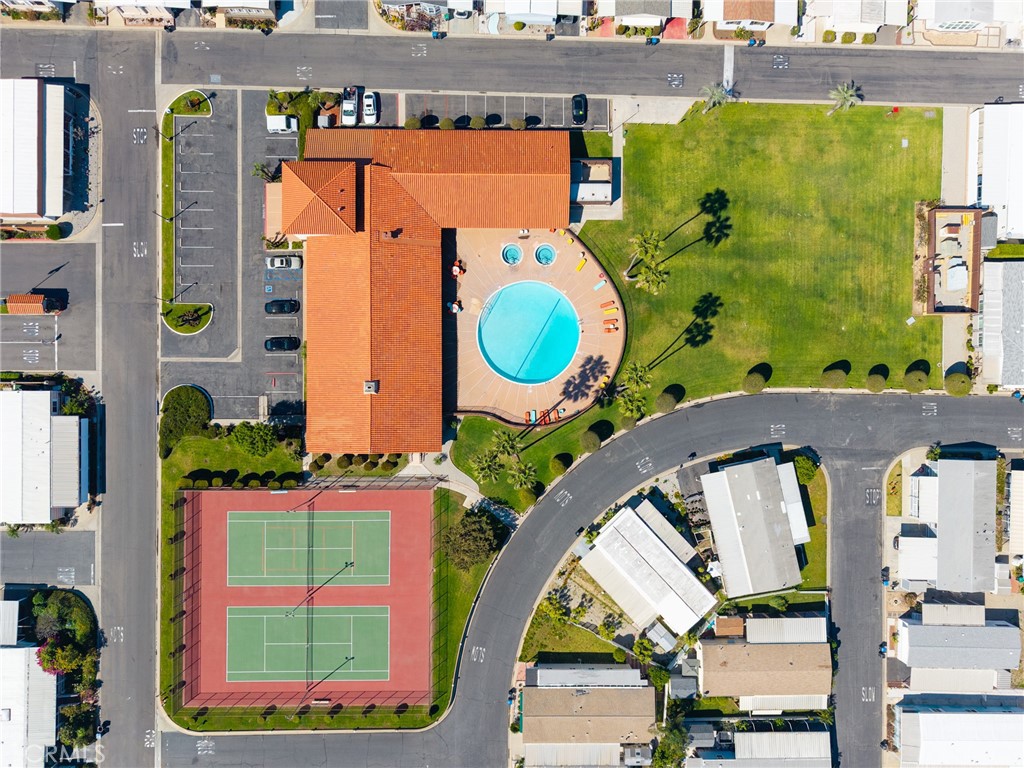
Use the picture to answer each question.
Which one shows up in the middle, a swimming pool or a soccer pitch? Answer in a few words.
swimming pool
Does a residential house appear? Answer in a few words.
Yes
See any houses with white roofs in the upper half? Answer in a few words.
Yes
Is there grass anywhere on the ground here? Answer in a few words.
Yes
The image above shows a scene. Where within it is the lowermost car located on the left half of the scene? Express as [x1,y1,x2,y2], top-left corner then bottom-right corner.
[264,336,298,351]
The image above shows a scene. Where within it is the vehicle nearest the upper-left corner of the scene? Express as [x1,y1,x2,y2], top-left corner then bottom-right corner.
[262,113,298,131]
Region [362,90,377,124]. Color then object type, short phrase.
white car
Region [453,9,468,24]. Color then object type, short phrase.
white car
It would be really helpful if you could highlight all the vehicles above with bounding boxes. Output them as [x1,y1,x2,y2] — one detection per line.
[262,113,298,131]
[453,9,468,24]
[892,537,898,551]
[264,298,298,314]
[561,15,574,28]
[362,90,377,124]
[265,254,300,269]
[340,84,357,125]
[573,92,588,125]
[264,336,298,351]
